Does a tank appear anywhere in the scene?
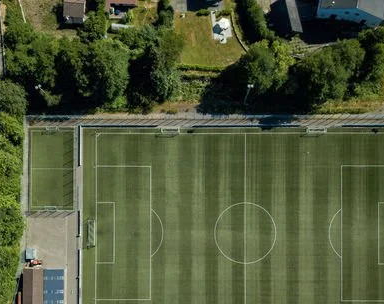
No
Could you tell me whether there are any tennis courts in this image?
No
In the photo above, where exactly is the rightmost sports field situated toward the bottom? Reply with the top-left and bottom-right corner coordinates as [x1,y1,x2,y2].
[81,125,384,304]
